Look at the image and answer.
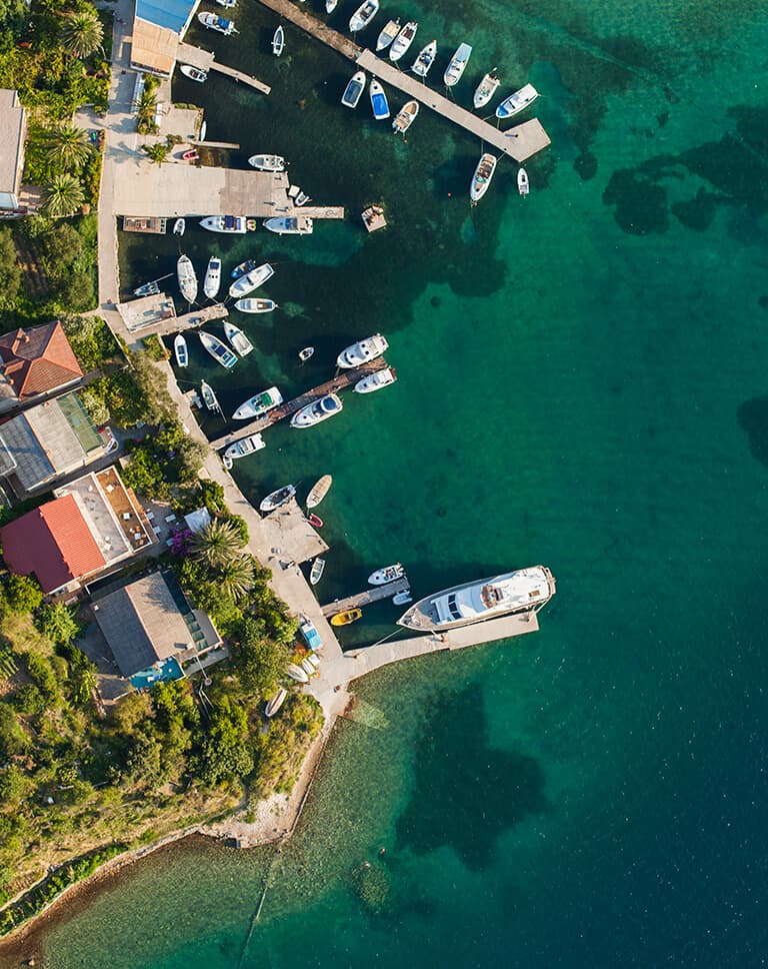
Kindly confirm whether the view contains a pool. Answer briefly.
No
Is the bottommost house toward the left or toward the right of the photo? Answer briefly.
left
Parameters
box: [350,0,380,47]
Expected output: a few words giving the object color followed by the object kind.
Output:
white boat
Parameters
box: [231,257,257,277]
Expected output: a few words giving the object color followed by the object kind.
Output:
blue boat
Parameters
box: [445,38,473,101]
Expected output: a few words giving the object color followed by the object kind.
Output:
white boat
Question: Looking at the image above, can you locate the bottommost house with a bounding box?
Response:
[90,569,225,689]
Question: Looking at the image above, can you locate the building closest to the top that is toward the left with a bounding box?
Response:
[130,0,206,83]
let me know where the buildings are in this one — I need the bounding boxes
[2,465,161,598]
[0,320,86,413]
[0,392,121,490]
[90,569,225,689]
[130,0,206,83]
[0,88,29,210]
